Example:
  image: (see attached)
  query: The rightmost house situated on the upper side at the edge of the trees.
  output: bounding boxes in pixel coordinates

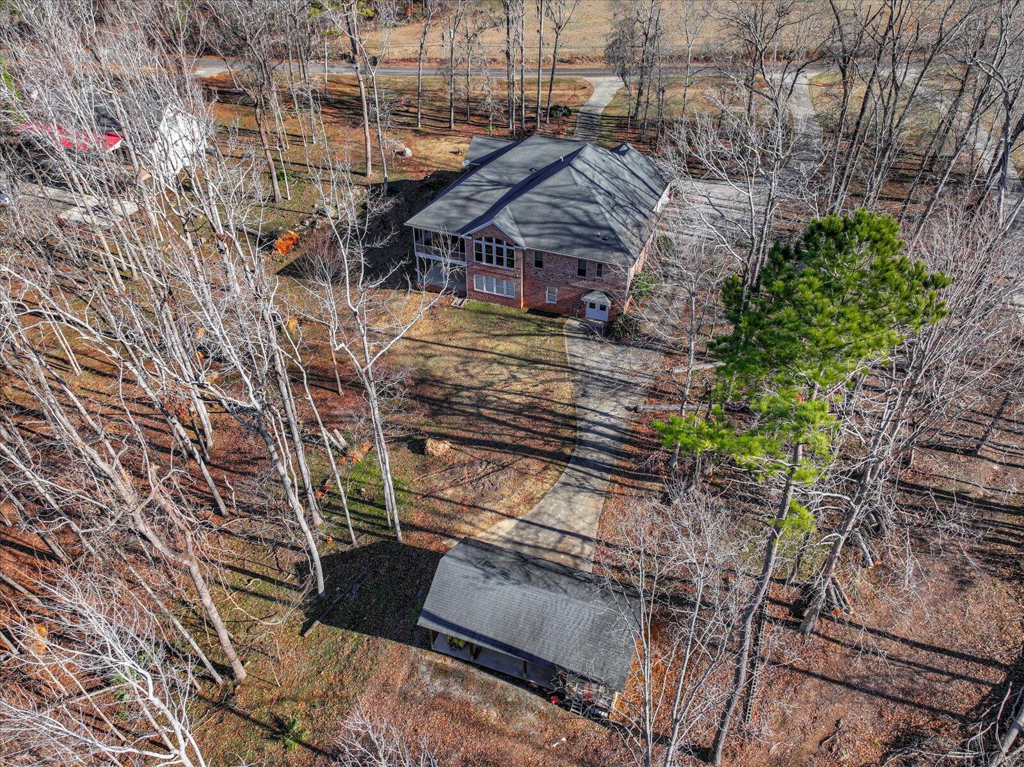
[395,135,680,328]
